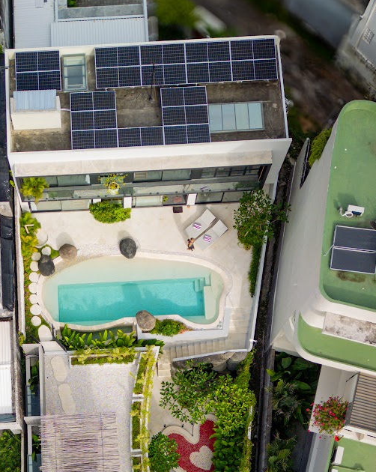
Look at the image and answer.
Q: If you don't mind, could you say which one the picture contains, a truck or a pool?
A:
pool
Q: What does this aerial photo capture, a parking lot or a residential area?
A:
residential area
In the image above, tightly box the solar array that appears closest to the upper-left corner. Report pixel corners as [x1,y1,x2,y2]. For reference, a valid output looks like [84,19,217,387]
[15,48,63,91]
